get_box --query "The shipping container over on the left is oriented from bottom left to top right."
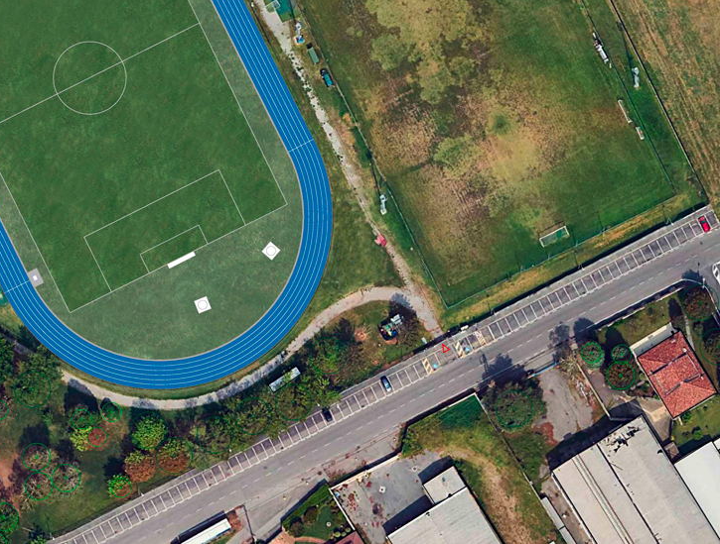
[270,366,301,392]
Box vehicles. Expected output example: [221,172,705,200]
[187,518,233,544]
[699,216,711,232]
[321,70,333,87]
[380,375,392,392]
[322,407,334,423]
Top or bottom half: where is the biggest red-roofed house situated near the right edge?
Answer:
bottom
